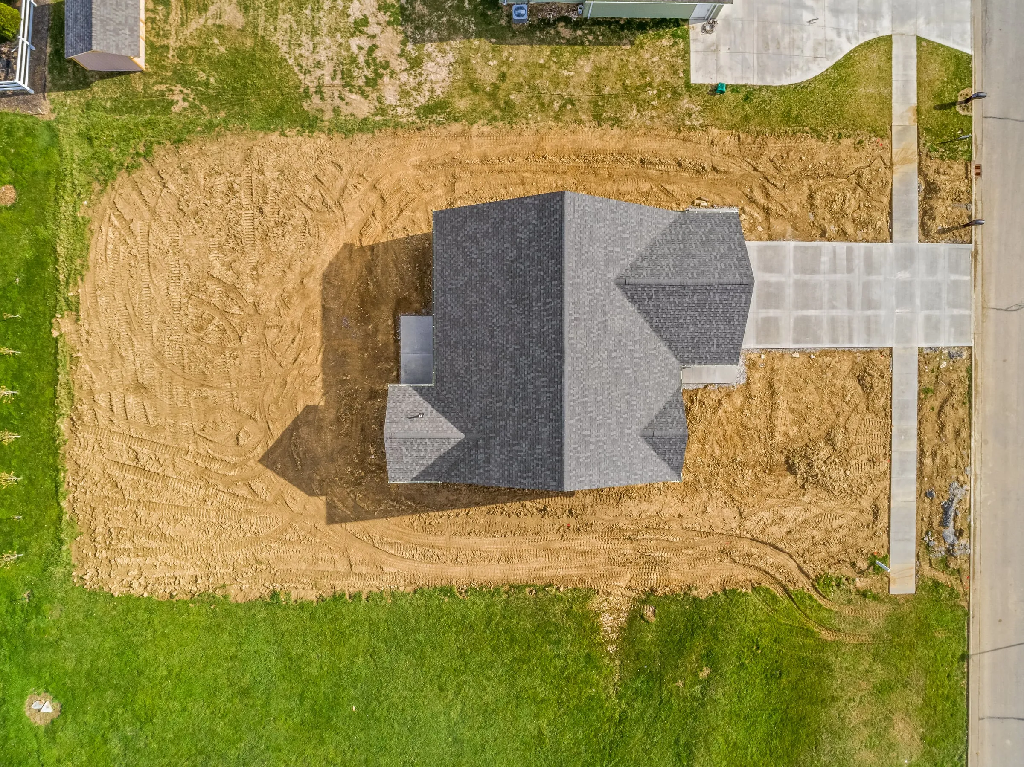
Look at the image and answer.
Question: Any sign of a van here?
No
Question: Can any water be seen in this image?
No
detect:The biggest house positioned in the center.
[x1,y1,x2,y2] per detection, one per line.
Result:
[384,189,755,492]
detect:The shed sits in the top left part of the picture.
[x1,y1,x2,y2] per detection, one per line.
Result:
[65,0,145,71]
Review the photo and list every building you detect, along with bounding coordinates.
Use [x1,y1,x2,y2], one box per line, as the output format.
[384,189,755,492]
[499,0,733,23]
[65,0,145,71]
